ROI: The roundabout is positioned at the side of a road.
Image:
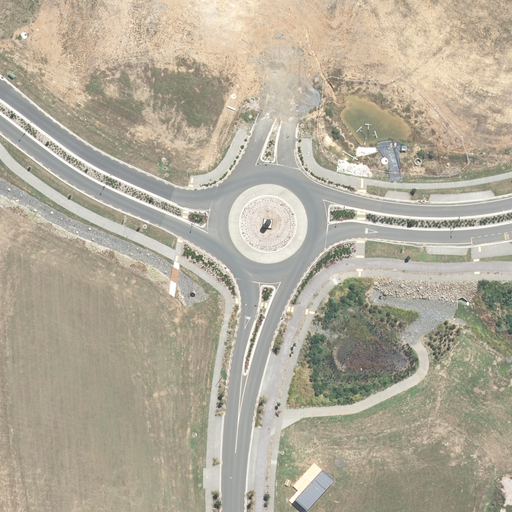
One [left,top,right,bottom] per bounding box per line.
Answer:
[194,150,340,302]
